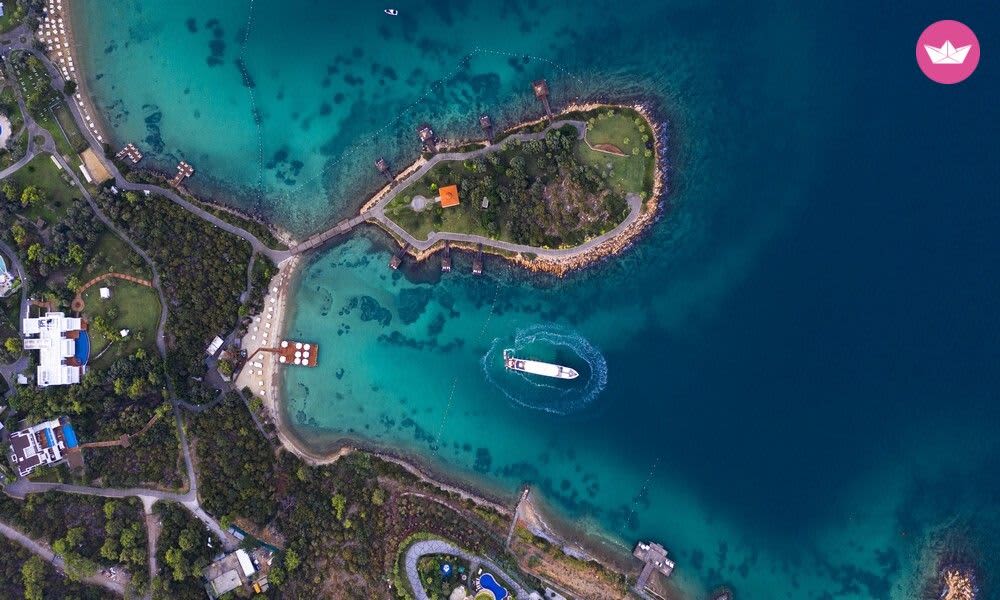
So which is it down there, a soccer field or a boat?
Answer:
boat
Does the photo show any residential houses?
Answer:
Yes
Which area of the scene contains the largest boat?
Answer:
center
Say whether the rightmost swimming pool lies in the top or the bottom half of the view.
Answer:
bottom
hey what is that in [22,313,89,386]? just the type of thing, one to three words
house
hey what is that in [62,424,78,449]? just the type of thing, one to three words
swimming pool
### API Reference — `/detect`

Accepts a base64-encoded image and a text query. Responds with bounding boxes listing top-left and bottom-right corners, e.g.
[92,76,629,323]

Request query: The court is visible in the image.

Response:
[81,149,109,184]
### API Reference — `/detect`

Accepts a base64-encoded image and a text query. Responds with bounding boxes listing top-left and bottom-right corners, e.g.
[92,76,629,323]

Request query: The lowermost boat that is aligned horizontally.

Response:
[504,349,580,378]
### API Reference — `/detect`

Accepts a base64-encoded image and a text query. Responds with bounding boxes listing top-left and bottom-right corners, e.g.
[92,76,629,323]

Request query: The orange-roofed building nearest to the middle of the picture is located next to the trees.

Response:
[436,185,460,208]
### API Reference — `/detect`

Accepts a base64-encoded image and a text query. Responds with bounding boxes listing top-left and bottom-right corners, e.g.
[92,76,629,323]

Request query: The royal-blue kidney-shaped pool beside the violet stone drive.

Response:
[479,573,506,600]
